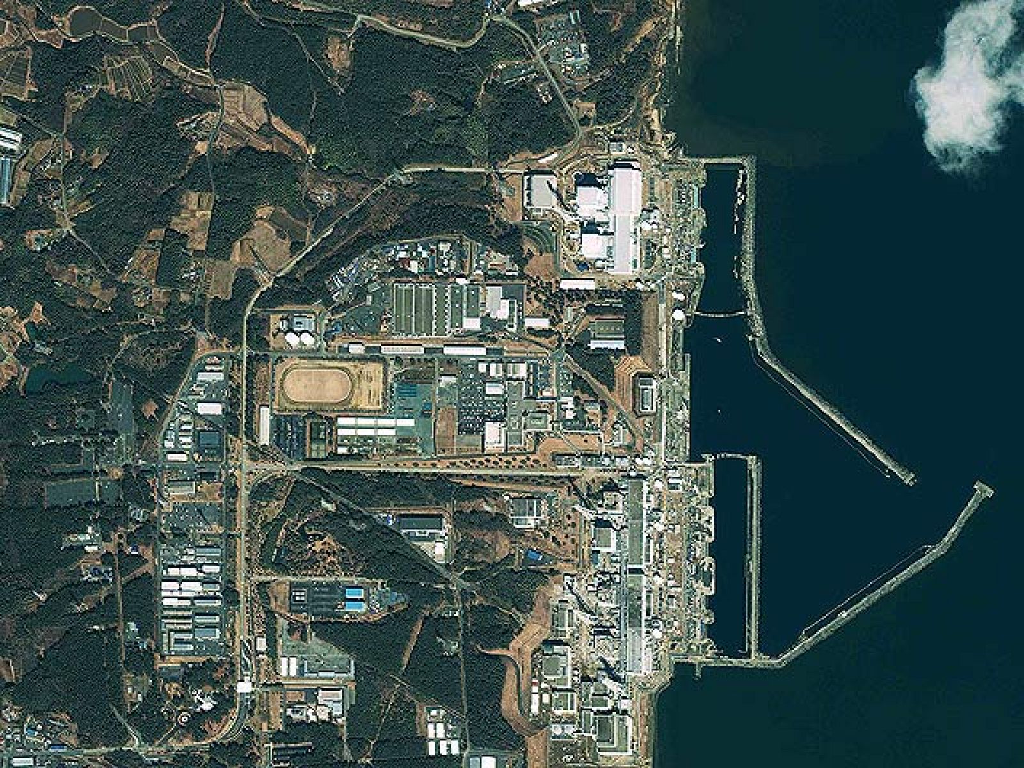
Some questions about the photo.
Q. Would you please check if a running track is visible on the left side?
Yes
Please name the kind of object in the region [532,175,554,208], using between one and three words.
building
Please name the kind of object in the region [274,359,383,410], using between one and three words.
running track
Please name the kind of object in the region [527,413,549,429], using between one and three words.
building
